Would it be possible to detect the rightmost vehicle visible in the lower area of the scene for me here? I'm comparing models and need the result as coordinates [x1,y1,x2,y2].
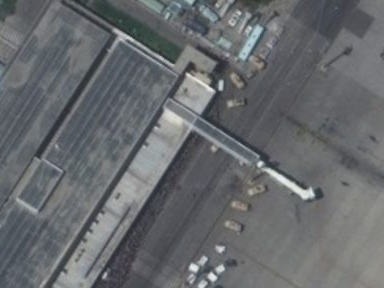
[248,184,268,196]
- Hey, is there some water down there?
No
